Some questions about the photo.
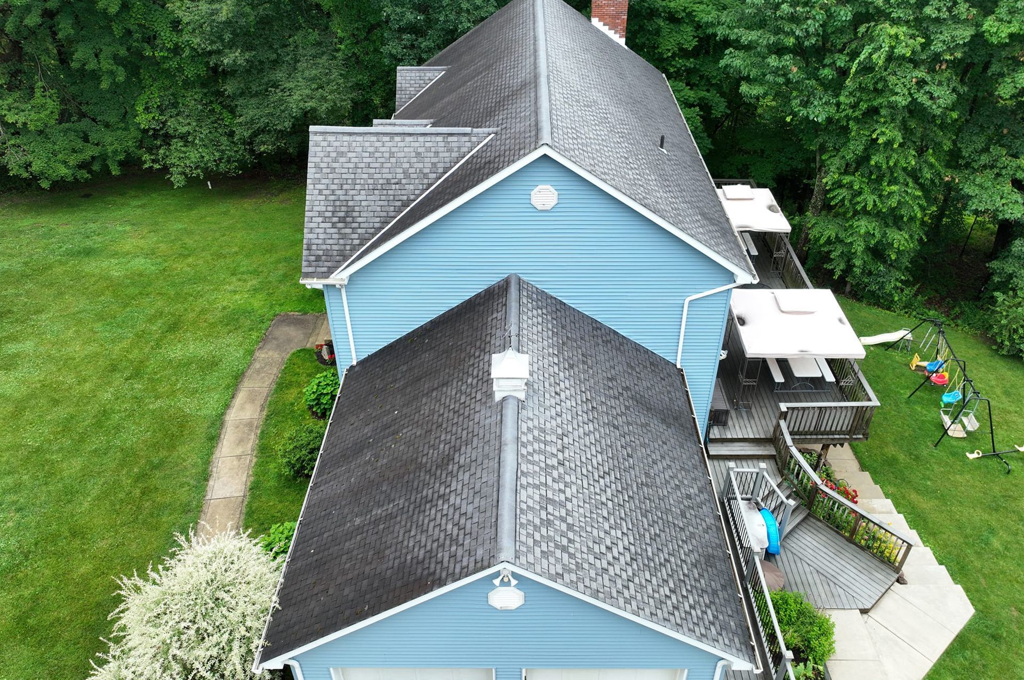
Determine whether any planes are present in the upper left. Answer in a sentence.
No, in the upper left there is no plane.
